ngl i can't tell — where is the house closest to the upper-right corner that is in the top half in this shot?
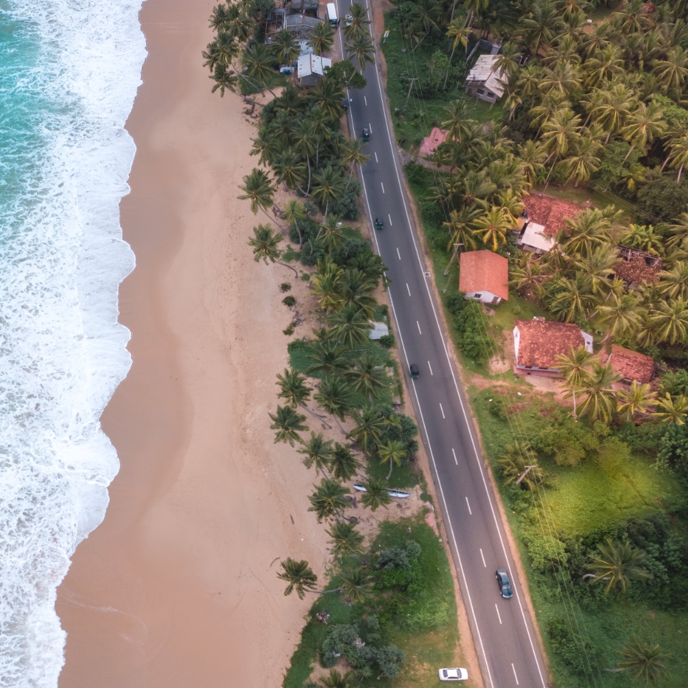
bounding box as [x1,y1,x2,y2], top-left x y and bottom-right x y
[463,55,513,105]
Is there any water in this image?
Yes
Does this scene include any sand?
Yes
